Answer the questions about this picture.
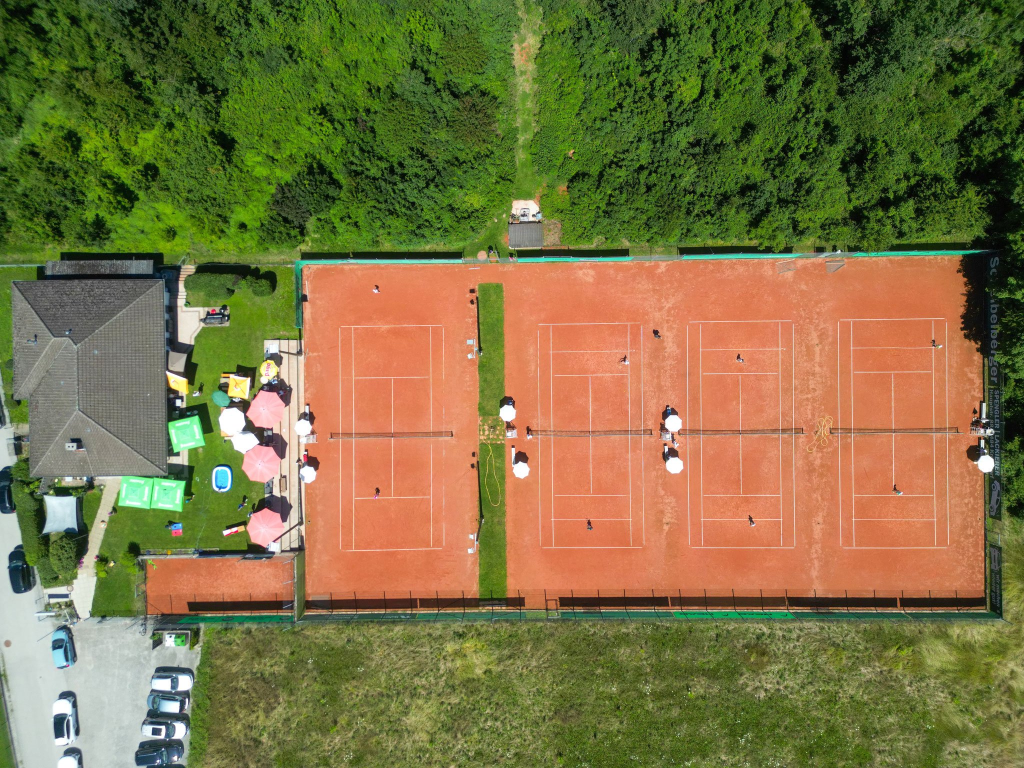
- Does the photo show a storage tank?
No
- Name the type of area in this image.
sports ground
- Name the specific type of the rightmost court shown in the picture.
tennis court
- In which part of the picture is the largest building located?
left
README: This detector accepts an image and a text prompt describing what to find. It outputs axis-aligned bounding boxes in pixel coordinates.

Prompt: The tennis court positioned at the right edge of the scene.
[817,258,986,609]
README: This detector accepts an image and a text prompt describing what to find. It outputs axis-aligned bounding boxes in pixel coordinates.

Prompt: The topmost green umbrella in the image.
[211,389,232,408]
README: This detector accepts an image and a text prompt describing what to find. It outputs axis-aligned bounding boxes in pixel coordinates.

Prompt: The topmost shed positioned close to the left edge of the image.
[45,260,156,276]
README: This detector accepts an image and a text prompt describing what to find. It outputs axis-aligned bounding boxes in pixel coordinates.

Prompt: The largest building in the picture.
[11,279,168,478]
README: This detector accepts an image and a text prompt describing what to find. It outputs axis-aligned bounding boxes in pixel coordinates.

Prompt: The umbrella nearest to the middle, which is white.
[499,405,516,421]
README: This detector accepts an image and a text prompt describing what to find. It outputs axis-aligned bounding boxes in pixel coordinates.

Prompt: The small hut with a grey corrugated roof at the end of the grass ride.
[509,223,543,249]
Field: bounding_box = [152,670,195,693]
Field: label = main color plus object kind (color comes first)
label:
white car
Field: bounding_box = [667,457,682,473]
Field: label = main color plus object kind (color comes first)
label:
white umbrella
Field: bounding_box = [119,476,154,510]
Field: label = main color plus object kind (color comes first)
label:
green umbrella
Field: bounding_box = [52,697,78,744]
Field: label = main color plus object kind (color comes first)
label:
white car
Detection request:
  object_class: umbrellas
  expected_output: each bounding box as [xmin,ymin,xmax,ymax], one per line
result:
[242,443,281,482]
[211,389,232,408]
[973,455,994,472]
[513,462,529,478]
[300,466,316,482]
[151,476,187,512]
[168,352,191,372]
[247,390,284,428]
[219,408,245,434]
[168,414,207,453]
[665,416,681,431]
[667,457,682,473]
[119,476,154,510]
[499,405,516,421]
[166,370,192,396]
[295,419,312,435]
[231,431,259,453]
[227,375,250,399]
[246,508,285,547]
